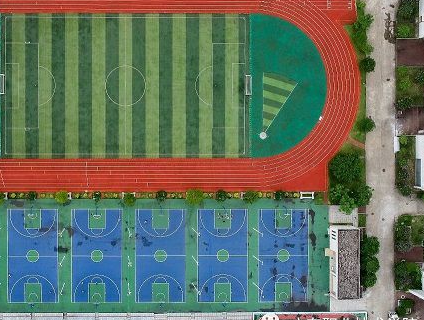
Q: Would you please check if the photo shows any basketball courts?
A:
Yes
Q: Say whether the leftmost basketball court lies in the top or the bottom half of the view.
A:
bottom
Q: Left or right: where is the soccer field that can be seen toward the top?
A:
left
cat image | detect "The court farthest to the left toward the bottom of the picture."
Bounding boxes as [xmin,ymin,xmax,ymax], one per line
[7,209,58,303]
